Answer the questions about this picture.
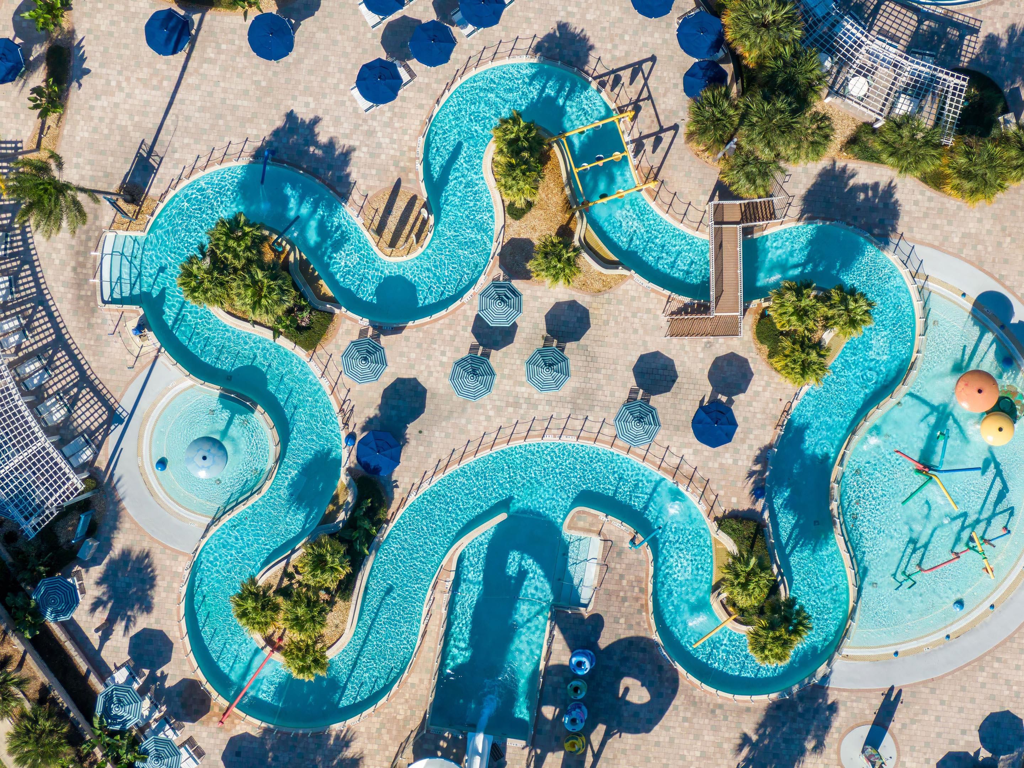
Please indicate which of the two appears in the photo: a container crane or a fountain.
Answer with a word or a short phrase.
fountain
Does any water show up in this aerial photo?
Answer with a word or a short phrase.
Yes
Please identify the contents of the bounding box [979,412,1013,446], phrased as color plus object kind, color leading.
yellow fountain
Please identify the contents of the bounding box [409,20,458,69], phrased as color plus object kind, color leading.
blue umbrella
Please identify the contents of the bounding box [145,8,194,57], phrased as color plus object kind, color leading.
blue umbrella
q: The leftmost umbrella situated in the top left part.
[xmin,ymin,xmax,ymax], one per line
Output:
[0,38,25,86]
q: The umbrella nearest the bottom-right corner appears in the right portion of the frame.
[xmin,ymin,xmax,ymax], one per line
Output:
[689,401,739,449]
